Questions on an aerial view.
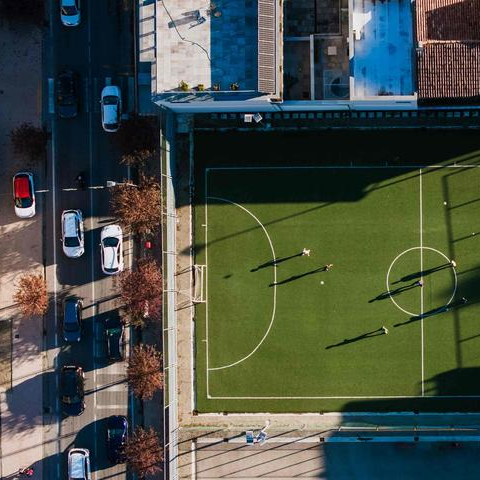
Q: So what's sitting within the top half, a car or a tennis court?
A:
car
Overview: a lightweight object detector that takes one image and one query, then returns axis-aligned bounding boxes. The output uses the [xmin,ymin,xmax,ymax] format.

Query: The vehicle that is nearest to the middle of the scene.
[98,223,124,276]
